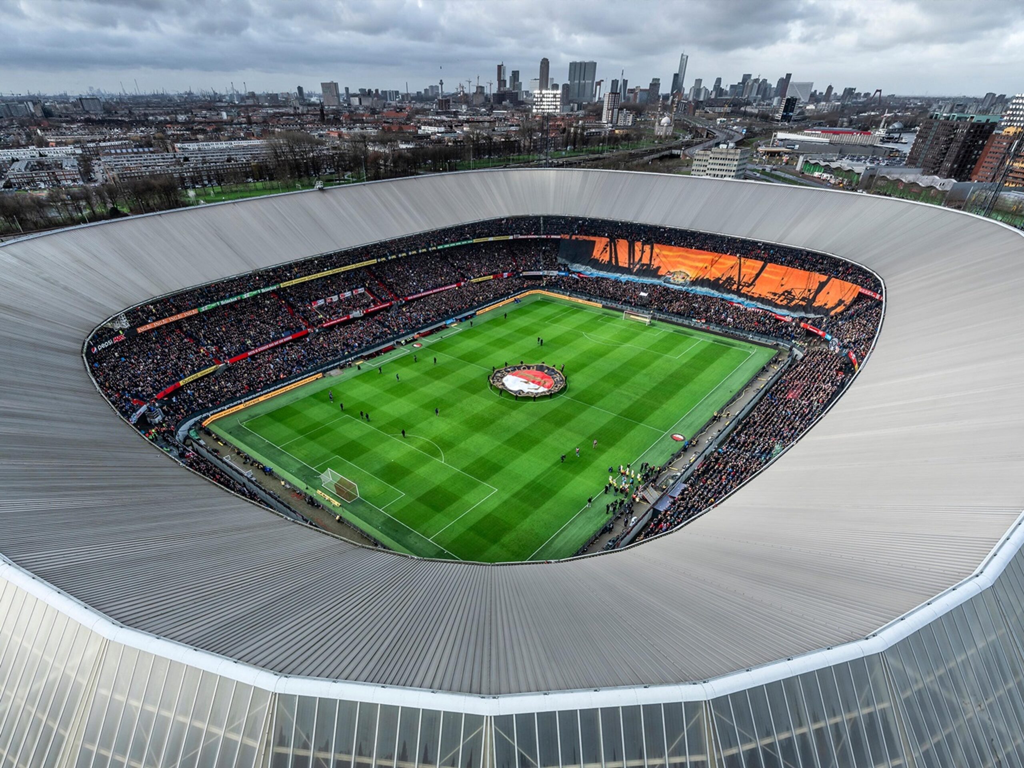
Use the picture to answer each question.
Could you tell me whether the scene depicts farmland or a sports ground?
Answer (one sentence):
This image shows a sports ground.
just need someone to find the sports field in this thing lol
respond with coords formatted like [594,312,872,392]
[241,299,752,558]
